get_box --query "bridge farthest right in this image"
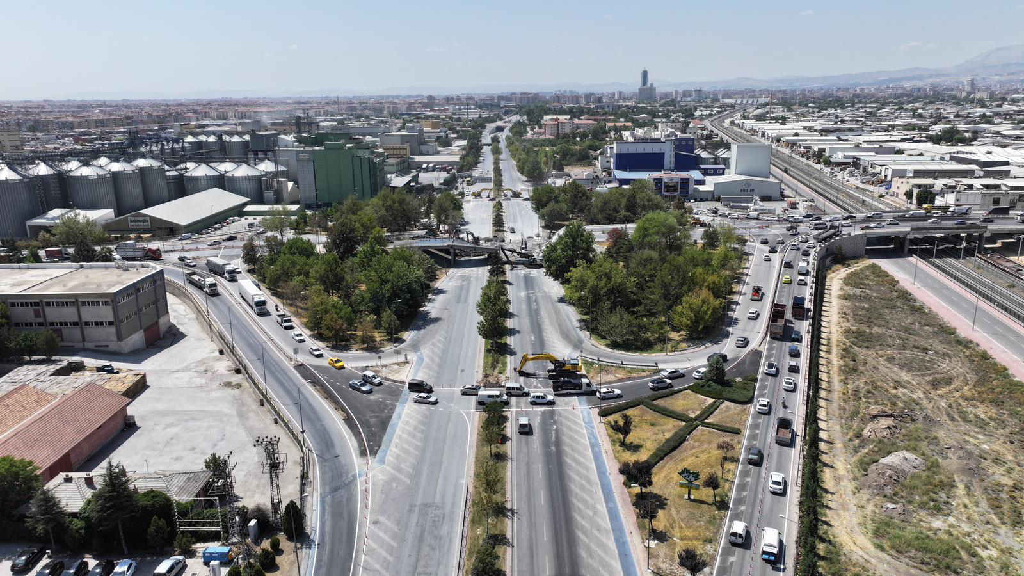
[846,211,1024,256]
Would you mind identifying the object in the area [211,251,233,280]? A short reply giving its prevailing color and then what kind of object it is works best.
white truck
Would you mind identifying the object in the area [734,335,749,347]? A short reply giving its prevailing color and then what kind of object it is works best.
gray vehicle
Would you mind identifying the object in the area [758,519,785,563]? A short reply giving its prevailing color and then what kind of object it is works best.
white vehicle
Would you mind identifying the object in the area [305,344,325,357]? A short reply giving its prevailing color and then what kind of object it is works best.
white vehicle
